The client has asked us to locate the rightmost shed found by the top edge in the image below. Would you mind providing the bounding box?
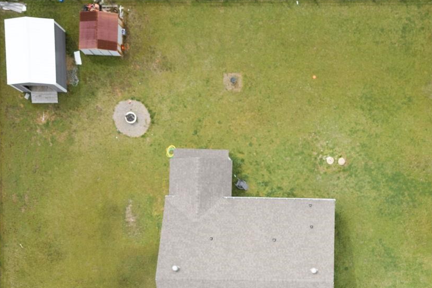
[79,11,123,57]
